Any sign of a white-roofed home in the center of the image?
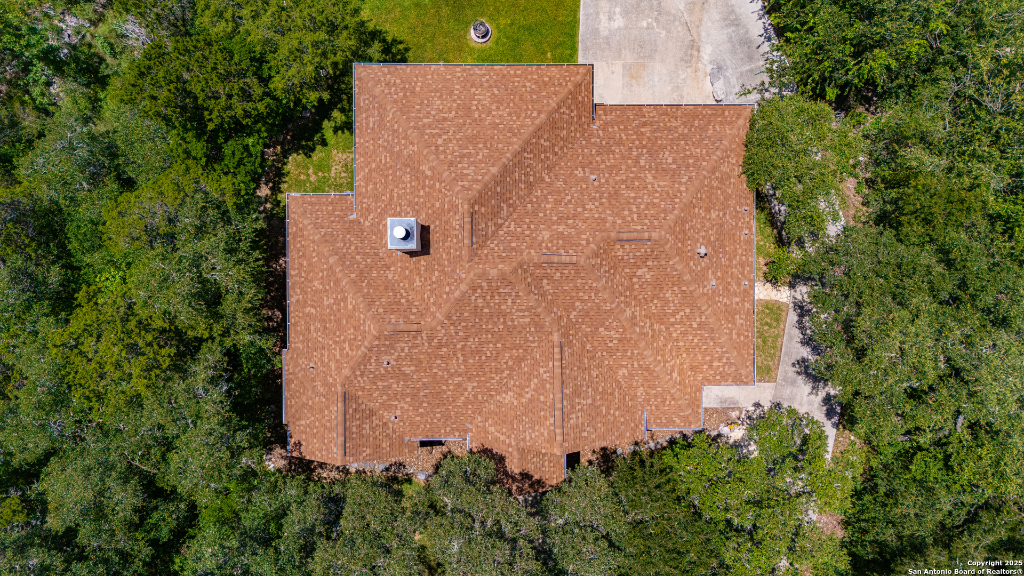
No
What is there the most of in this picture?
trees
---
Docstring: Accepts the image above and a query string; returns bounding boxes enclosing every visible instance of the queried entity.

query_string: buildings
[280,63,757,492]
